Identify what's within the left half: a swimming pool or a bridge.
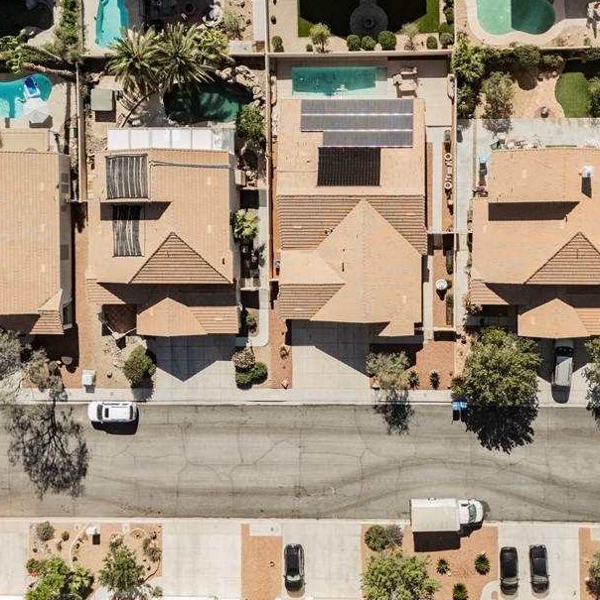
swimming pool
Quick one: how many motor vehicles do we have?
six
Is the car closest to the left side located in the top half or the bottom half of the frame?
bottom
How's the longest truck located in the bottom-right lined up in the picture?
horizontally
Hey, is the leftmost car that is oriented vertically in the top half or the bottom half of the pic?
bottom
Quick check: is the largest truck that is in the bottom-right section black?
No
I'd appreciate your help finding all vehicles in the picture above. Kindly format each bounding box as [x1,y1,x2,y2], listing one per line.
[409,498,482,531]
[497,544,520,593]
[551,338,575,386]
[527,543,551,592]
[283,542,305,589]
[89,401,139,424]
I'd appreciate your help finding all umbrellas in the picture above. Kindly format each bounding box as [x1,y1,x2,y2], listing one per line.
[393,75,403,86]
[24,98,49,122]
